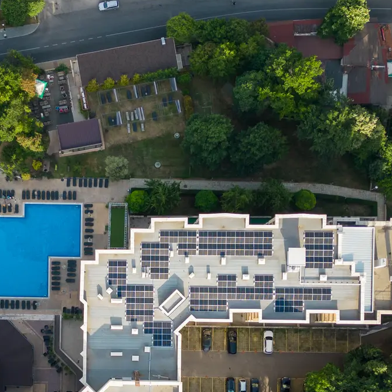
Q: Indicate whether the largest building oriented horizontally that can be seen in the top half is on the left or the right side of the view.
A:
left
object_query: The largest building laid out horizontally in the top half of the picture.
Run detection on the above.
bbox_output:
[76,33,179,90]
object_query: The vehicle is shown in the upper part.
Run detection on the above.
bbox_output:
[98,0,120,12]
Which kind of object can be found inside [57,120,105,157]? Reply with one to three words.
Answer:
house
